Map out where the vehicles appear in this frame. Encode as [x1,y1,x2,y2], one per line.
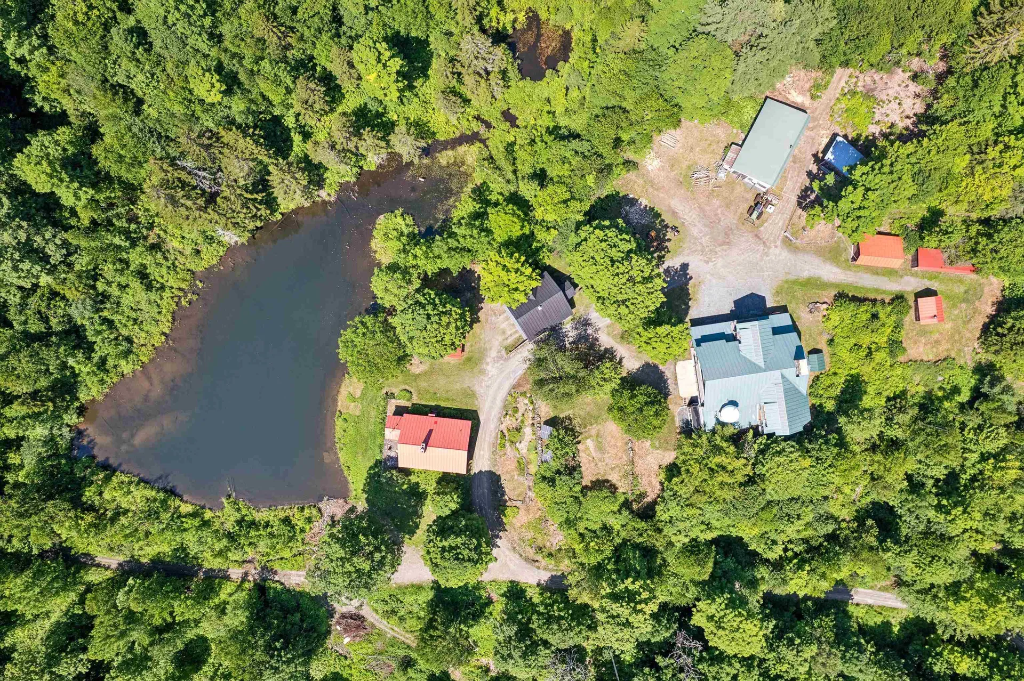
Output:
[739,188,774,233]
[645,225,667,251]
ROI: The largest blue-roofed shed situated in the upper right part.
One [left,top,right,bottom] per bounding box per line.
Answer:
[817,135,866,181]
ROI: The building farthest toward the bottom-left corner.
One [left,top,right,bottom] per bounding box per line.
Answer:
[385,414,472,474]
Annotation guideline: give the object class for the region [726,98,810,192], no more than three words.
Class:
building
